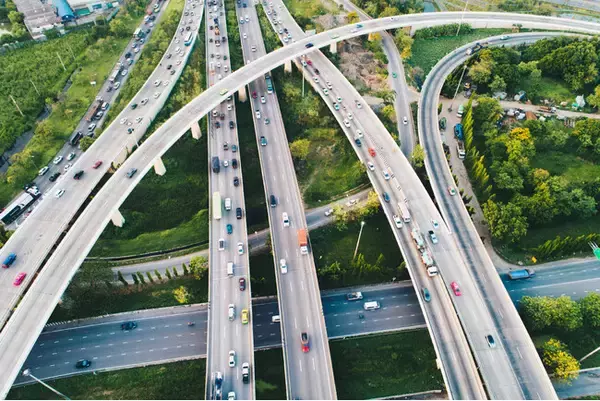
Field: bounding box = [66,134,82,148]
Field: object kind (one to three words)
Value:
vehicle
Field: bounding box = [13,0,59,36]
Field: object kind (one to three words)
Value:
shed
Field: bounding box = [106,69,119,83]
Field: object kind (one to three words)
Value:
vehicle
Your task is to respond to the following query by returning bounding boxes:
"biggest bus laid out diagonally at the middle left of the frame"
[2,193,32,221]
